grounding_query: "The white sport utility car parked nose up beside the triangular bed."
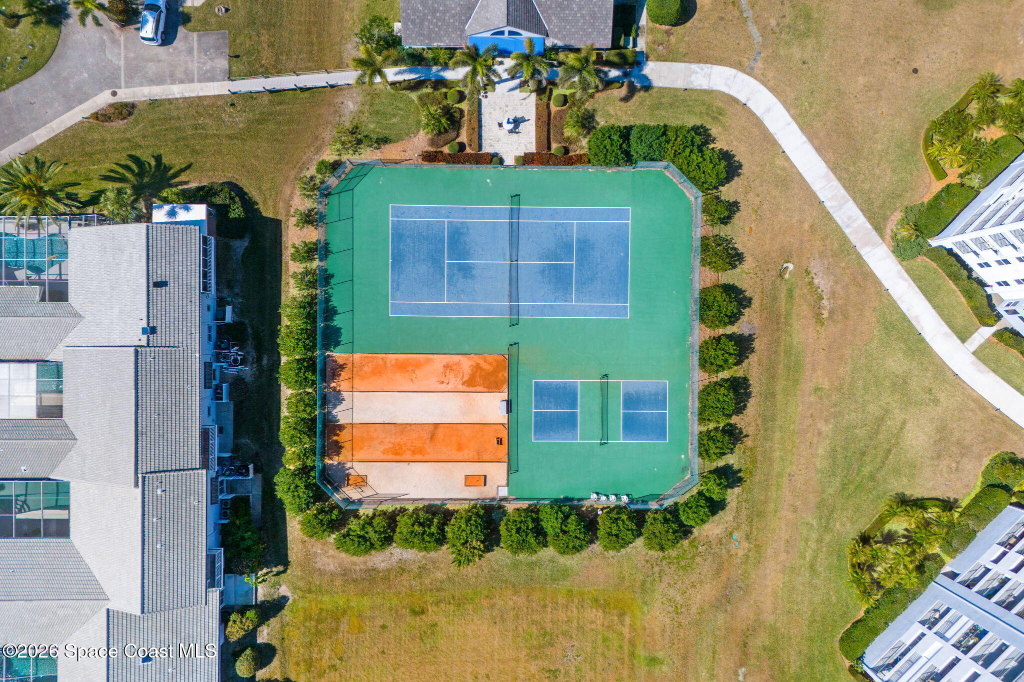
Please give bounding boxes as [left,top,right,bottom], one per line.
[140,0,168,45]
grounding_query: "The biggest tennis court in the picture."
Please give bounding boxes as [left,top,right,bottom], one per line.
[326,168,692,500]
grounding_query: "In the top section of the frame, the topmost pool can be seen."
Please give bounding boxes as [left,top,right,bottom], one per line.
[0,234,68,280]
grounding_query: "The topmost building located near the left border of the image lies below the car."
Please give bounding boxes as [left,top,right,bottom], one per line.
[0,204,216,361]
